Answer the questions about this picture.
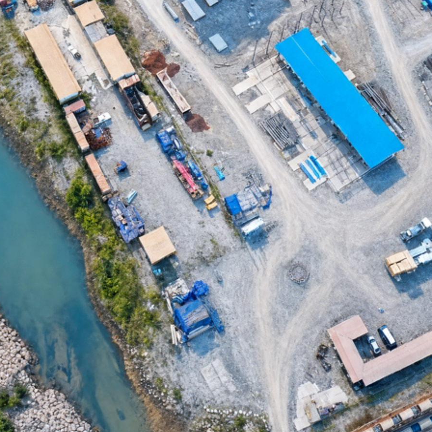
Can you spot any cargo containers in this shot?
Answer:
Yes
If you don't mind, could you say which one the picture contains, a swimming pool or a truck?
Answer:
truck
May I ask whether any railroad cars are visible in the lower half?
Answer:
No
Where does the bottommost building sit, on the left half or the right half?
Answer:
right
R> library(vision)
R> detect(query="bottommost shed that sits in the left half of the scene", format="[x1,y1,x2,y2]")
[140,226,176,265]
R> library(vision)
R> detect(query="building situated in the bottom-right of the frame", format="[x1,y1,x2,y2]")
[328,315,432,388]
